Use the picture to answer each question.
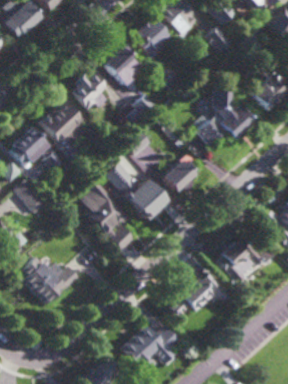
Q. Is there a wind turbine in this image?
No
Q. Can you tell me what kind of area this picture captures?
residential area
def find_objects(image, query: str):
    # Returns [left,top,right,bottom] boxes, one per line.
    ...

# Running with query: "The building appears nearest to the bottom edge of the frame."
[120,326,178,366]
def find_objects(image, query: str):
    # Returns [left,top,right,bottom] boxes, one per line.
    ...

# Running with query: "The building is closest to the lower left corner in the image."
[24,254,76,300]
